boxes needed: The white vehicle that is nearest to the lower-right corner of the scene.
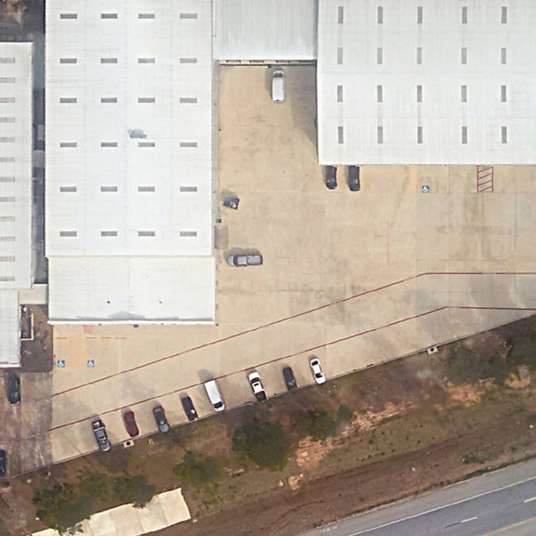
[310,357,326,384]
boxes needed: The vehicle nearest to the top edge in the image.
[271,71,286,102]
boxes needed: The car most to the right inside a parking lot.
[348,165,360,191]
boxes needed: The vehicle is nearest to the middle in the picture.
[228,254,264,267]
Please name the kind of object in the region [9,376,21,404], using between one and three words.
vehicle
